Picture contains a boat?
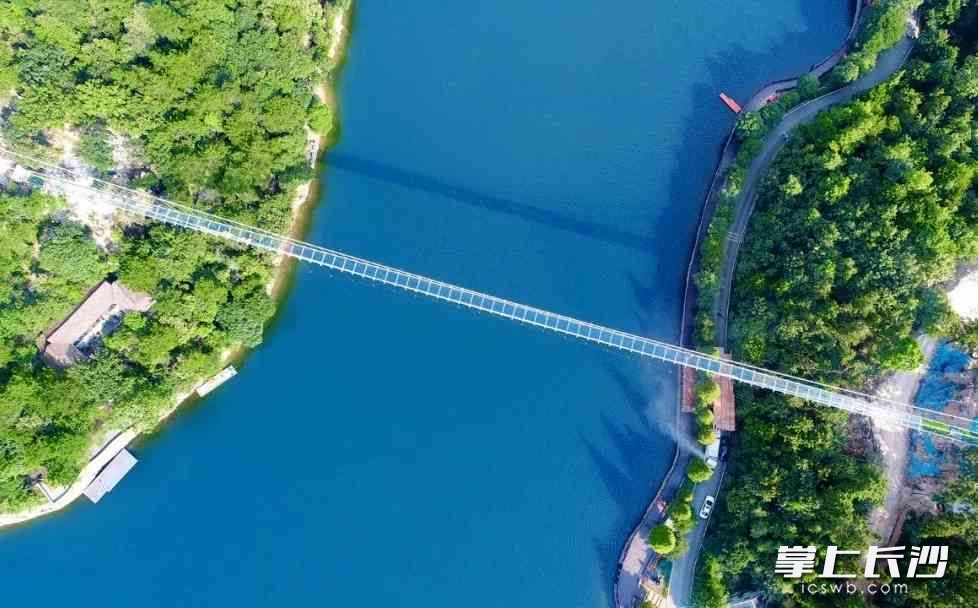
No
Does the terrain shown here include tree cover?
Yes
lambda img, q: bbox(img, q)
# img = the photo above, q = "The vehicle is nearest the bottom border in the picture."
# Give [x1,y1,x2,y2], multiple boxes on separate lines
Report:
[698,495,714,519]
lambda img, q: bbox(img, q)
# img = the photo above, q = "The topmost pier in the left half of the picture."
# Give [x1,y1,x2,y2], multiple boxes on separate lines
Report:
[189,365,238,400]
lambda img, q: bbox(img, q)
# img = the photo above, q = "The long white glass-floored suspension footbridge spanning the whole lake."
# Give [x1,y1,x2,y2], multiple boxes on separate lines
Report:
[0,144,978,443]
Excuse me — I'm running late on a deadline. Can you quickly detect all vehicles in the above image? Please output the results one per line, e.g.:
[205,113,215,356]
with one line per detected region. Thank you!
[705,430,721,474]
[698,495,714,519]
